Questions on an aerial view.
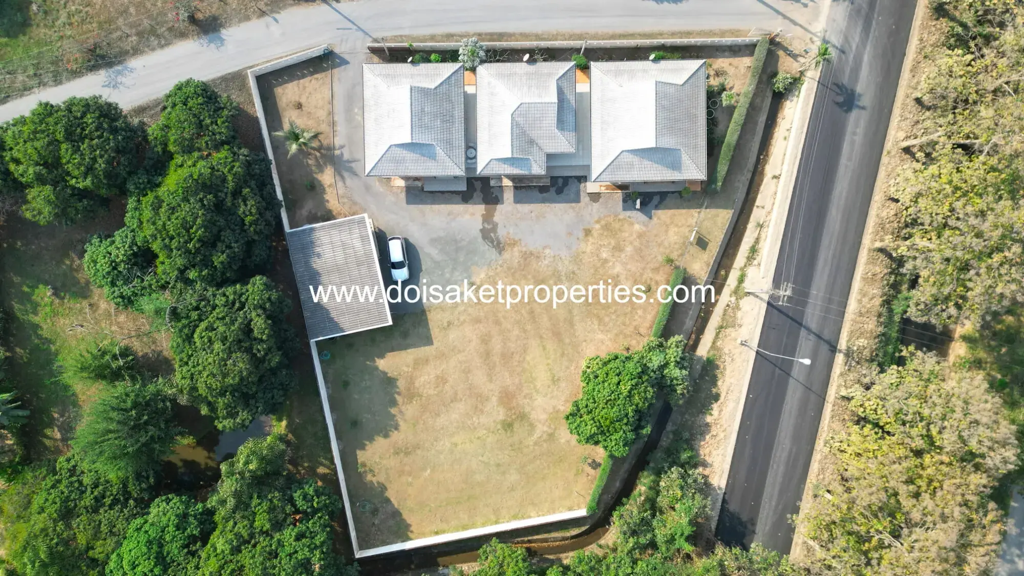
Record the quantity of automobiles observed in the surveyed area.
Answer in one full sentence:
The picture shows 1 automobile.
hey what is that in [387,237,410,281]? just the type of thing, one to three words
car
